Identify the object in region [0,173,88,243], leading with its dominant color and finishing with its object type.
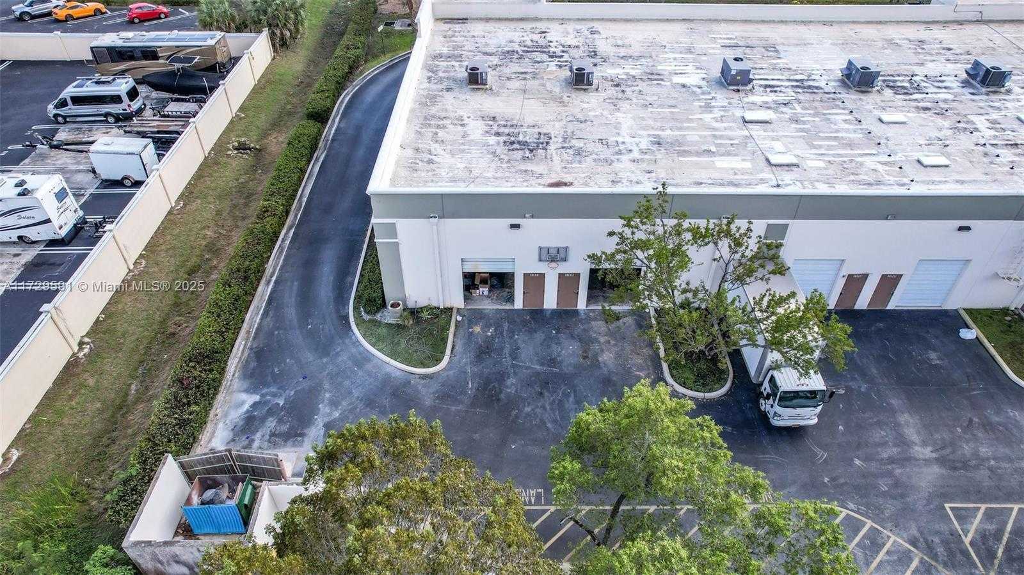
white camper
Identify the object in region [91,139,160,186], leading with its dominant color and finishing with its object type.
white trailer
